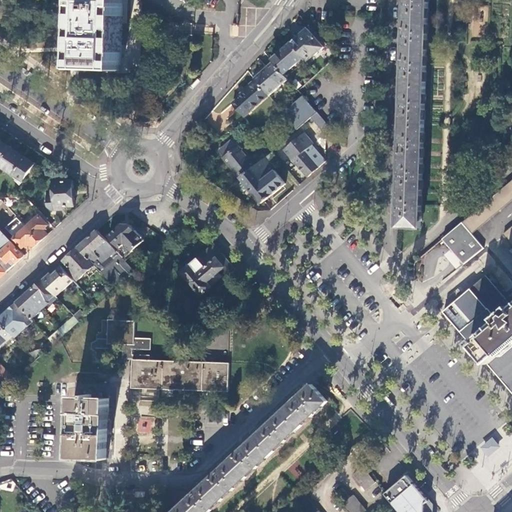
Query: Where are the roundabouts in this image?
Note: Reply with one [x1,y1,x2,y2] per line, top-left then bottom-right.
[112,139,169,196]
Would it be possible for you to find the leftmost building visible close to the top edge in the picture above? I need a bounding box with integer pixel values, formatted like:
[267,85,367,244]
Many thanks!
[56,0,125,72]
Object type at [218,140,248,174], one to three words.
house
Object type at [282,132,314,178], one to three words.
house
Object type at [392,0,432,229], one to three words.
building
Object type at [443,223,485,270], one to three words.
building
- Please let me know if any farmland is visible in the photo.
No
